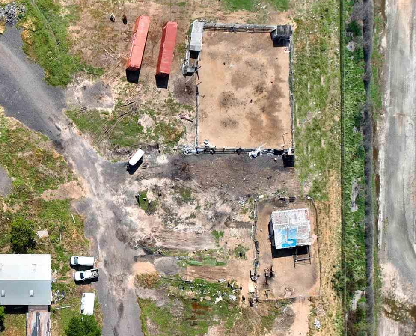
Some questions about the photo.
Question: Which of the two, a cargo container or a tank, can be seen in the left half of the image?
cargo container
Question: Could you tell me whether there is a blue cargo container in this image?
No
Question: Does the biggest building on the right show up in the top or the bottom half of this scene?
bottom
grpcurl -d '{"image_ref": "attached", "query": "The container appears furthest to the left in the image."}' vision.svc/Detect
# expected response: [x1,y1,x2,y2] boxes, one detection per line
[124,15,152,74]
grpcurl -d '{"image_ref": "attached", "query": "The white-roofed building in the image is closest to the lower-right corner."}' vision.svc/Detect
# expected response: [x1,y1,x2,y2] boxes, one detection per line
[267,209,313,248]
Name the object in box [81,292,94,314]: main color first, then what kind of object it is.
white vehicle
